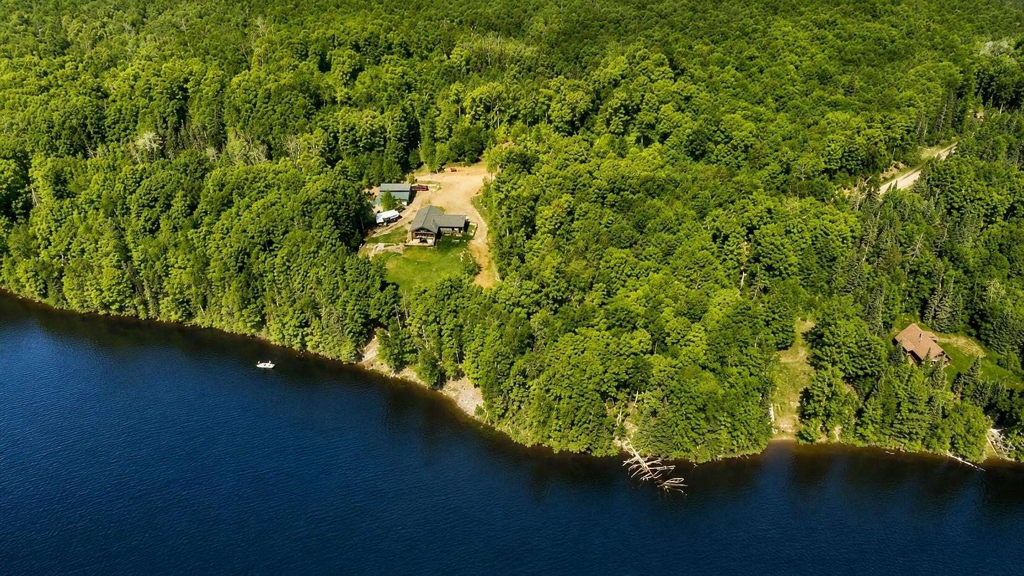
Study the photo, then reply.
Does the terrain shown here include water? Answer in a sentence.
Yes, there's water in this view.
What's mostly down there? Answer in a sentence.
What you mostly see from above here is trees.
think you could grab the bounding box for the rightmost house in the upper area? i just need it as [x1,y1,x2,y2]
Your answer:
[409,207,469,243]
